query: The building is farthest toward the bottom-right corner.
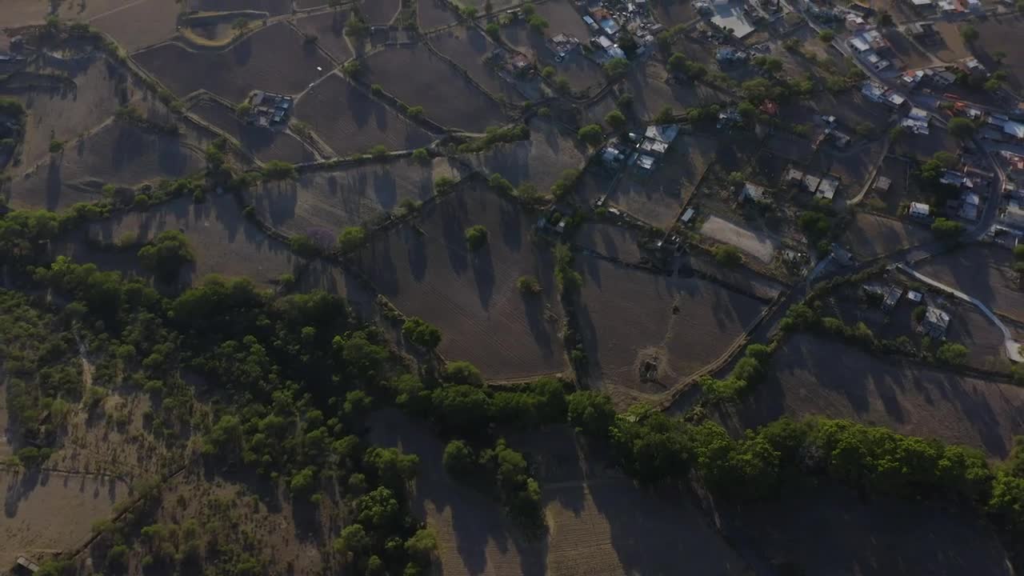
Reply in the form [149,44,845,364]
[918,307,950,337]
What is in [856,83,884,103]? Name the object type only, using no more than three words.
house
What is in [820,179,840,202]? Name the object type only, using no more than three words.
house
